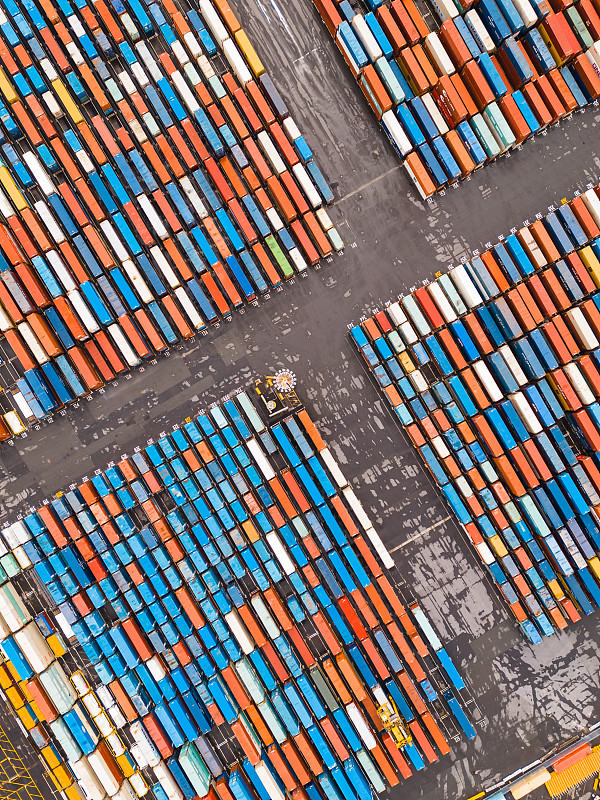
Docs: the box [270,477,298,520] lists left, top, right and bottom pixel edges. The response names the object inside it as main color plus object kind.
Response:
orange shipping container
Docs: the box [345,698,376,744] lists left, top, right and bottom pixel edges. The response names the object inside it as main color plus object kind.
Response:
white shipping container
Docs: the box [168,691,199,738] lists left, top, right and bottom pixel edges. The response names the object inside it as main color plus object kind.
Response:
blue shipping container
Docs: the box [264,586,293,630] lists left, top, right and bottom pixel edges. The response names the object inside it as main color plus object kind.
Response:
orange shipping container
